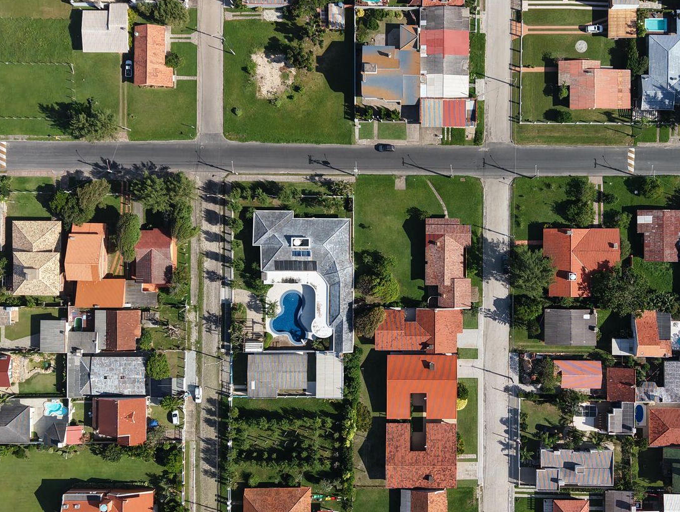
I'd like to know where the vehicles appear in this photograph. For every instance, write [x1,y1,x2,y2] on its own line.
[194,385,204,403]
[376,143,394,152]
[124,58,133,79]
[172,409,180,427]
[502,257,509,274]
[585,25,604,33]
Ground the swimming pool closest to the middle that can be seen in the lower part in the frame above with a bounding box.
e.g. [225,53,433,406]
[269,288,308,344]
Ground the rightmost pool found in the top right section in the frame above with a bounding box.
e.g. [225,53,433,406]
[644,16,668,33]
